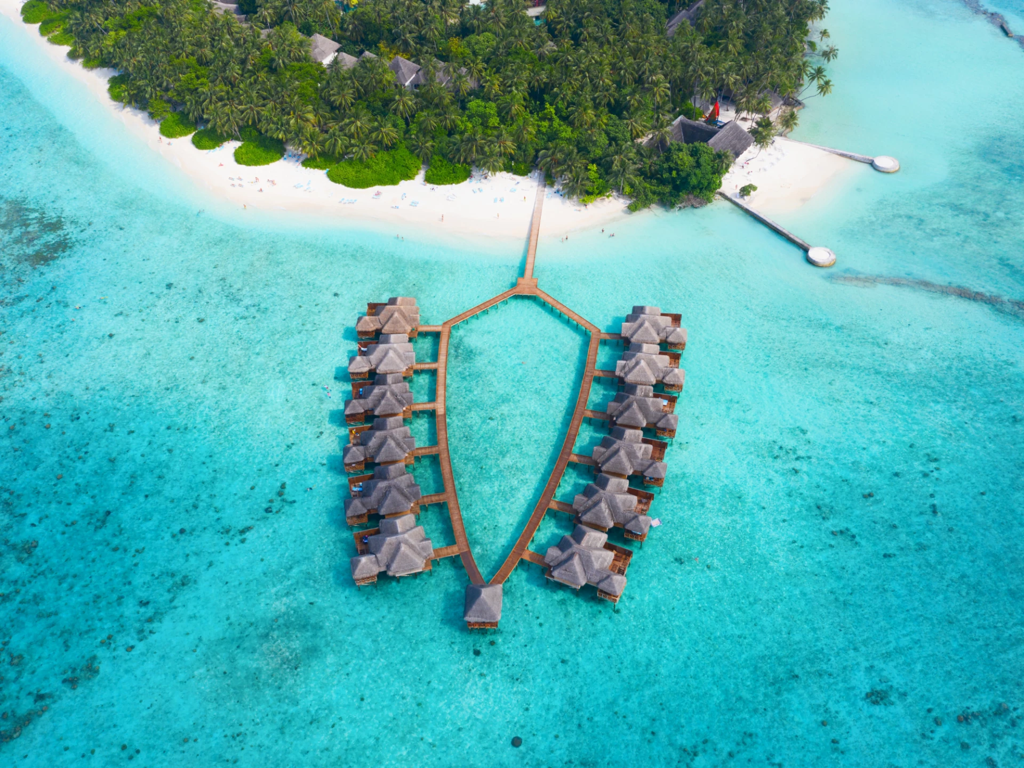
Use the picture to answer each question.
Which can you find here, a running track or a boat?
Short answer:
boat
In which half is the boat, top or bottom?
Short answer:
top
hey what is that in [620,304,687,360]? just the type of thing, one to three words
house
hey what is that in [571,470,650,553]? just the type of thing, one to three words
house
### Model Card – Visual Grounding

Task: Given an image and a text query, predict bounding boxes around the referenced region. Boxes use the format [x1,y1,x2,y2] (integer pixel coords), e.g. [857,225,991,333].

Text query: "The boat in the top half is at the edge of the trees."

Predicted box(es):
[706,94,730,124]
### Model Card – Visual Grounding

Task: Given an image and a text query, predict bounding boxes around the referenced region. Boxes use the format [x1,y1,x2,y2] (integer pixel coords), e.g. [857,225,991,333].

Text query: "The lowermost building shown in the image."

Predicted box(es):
[463,584,504,636]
